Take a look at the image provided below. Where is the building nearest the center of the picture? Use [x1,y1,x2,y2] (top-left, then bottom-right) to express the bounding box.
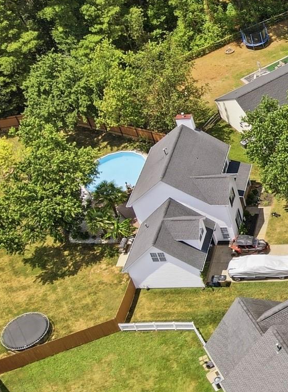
[120,118,257,287]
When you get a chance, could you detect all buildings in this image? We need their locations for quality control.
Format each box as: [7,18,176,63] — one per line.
[214,64,288,146]
[120,118,257,287]
[199,295,288,392]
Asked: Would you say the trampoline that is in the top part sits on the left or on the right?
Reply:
right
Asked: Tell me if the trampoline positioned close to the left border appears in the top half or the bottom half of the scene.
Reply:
bottom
